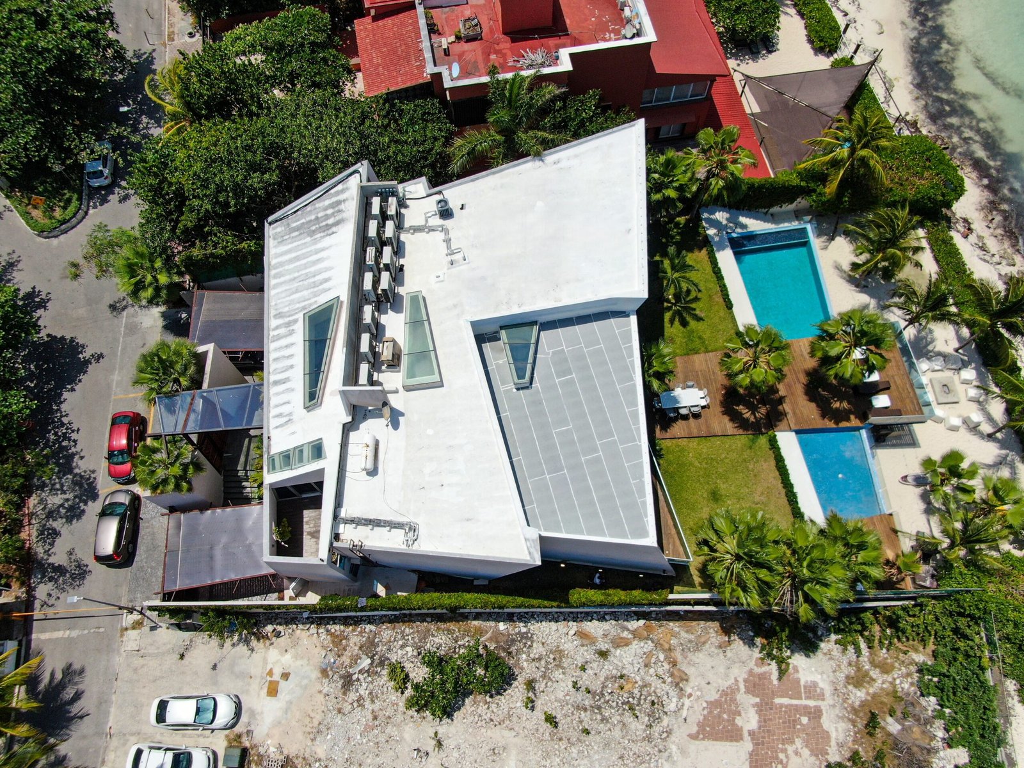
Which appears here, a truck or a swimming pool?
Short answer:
swimming pool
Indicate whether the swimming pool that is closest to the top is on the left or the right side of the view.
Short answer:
right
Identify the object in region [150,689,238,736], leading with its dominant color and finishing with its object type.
white car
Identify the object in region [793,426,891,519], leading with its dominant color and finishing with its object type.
blue swimming pool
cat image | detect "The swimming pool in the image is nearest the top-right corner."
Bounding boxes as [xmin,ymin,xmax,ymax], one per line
[728,223,835,341]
